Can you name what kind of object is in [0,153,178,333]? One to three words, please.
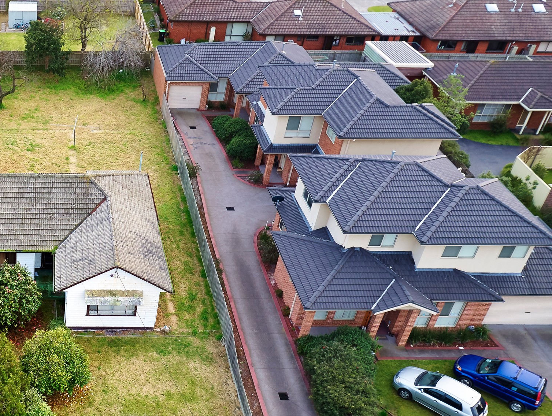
house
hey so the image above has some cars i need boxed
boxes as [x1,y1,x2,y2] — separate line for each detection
[392,369,491,416]
[449,355,552,415]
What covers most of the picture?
buildings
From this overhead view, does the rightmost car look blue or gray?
blue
